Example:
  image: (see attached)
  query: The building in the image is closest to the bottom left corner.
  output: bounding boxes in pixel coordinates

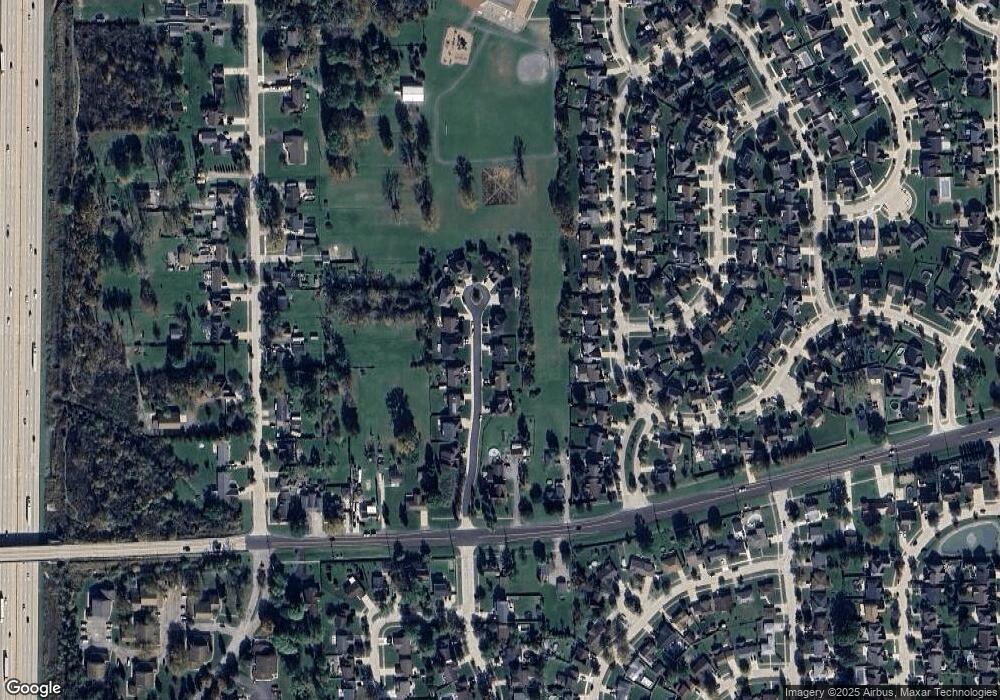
[86,646,107,677]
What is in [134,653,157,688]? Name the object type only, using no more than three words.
building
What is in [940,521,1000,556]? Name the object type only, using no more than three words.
pond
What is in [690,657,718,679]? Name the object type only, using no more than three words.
house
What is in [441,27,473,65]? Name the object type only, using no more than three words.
playground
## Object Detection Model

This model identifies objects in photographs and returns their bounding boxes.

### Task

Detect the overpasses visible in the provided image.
[0,538,246,559]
